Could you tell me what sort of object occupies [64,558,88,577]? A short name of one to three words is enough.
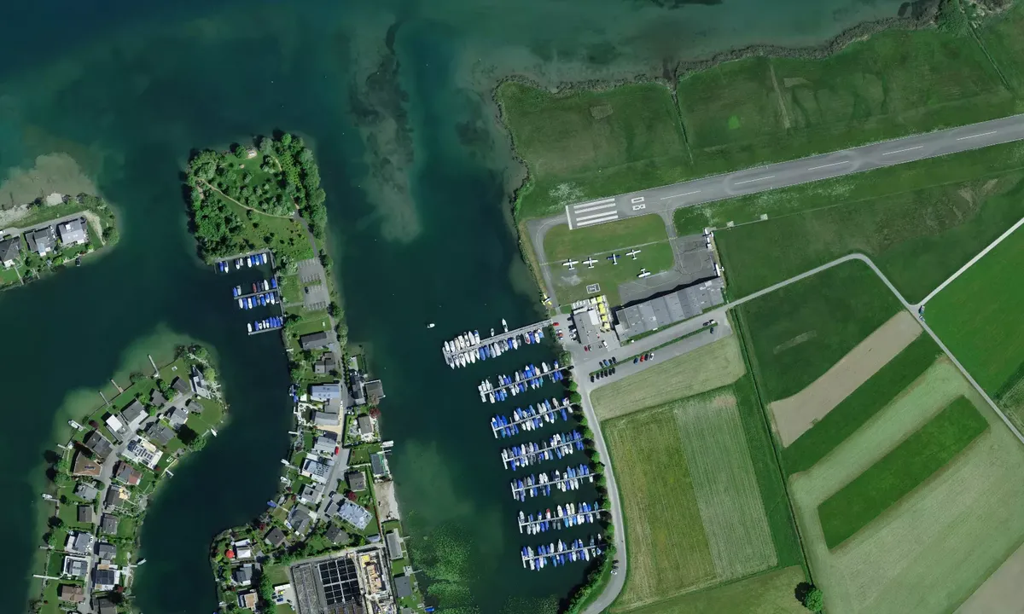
house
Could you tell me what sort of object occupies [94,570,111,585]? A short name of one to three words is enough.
solar panel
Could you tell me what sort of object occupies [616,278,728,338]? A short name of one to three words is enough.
hangar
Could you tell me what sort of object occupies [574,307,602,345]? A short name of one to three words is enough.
building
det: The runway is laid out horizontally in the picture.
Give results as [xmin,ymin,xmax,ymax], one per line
[566,114,1024,229]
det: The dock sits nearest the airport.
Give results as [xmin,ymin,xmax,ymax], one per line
[448,319,551,357]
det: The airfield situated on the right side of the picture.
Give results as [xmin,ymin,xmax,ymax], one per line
[526,114,1024,314]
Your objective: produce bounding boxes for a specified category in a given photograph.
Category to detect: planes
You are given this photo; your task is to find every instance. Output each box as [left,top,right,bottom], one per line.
[626,249,641,261]
[707,239,716,251]
[607,253,621,265]
[583,257,598,269]
[541,295,552,305]
[704,228,714,240]
[715,263,725,277]
[638,267,651,277]
[563,259,578,271]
